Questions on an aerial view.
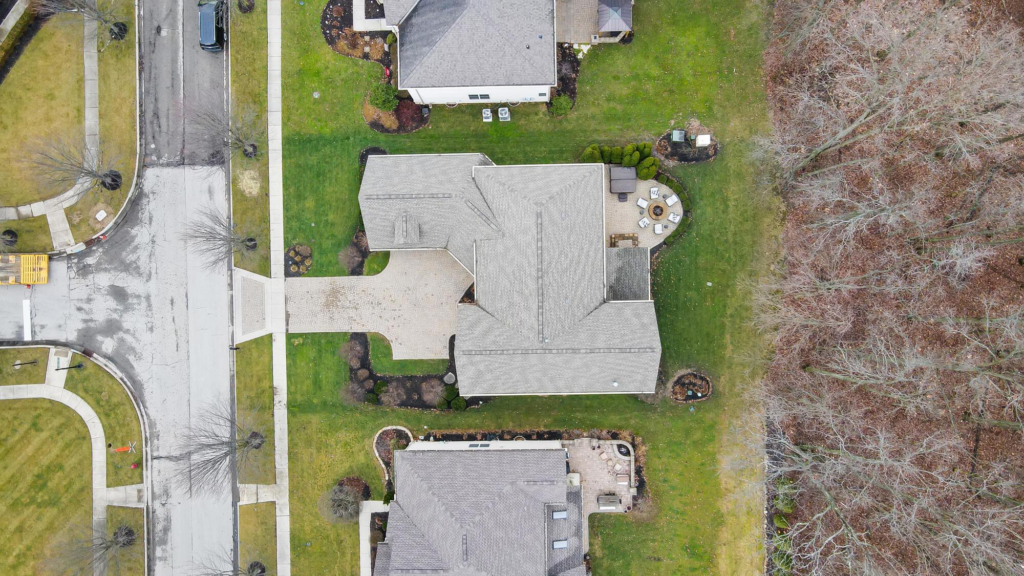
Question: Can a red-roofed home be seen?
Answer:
No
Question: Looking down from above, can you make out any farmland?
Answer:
No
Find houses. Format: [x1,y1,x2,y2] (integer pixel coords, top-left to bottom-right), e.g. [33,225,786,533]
[384,0,558,110]
[373,436,586,576]
[358,152,662,397]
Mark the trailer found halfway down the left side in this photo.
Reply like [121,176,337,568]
[0,255,49,285]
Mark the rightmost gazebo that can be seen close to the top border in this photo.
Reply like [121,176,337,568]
[595,0,632,42]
